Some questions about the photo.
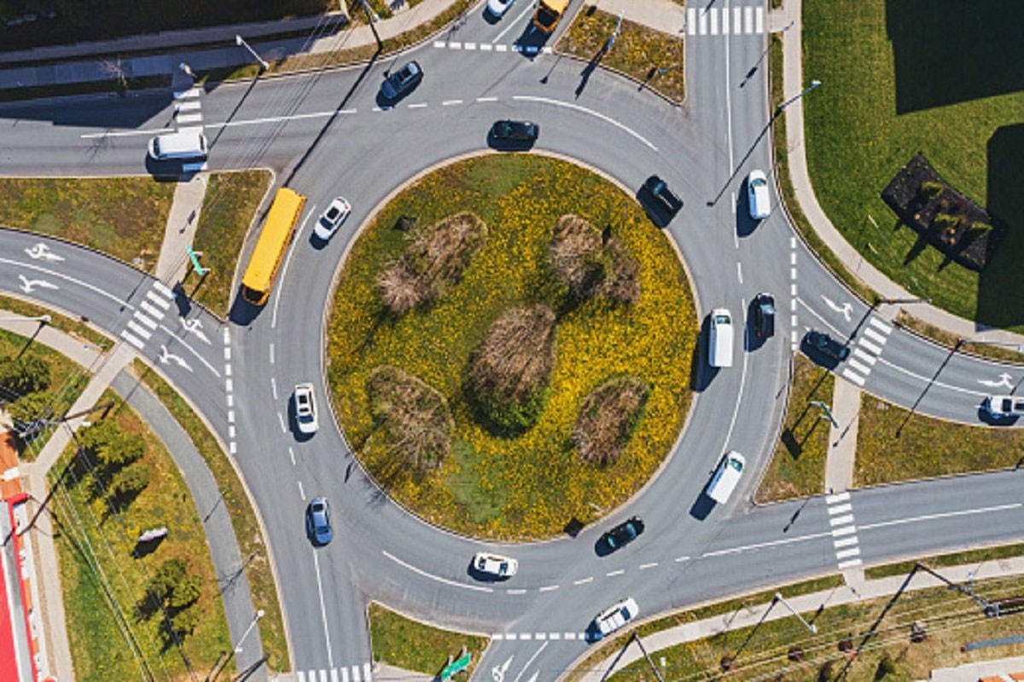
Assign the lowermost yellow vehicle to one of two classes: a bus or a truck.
bus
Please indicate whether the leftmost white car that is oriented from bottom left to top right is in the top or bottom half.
top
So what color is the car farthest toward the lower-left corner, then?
blue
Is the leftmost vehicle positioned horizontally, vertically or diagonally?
horizontally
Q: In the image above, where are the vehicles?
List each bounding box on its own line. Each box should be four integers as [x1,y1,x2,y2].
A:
[489,119,538,142]
[295,385,319,431]
[310,498,333,544]
[641,174,686,219]
[705,453,743,504]
[744,171,768,221]
[538,0,576,32]
[383,62,424,99]
[598,517,643,551]
[801,333,847,364]
[707,311,732,365]
[595,597,639,632]
[315,197,351,242]
[752,293,775,338]
[242,186,309,301]
[152,135,212,159]
[472,552,518,577]
[489,0,514,17]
